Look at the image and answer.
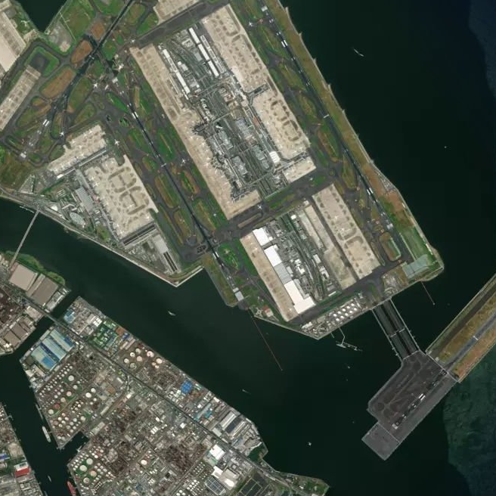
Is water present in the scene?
Yes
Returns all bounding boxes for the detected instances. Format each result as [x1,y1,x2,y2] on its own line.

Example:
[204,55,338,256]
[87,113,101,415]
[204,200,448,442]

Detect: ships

[67,481,77,496]
[43,426,51,443]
